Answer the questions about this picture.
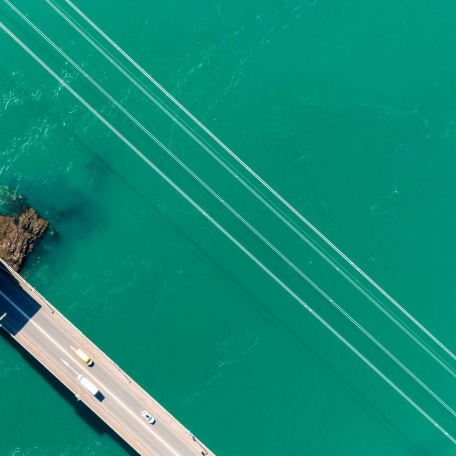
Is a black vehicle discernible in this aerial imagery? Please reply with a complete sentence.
No, no black vehicle is visible in the view.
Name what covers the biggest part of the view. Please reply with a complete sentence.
What you mostly see from above here is water.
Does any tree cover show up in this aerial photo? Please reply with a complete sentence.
No, the scene doesn't show any tree cover.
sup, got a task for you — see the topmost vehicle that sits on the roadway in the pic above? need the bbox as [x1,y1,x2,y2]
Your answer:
[75,348,92,365]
